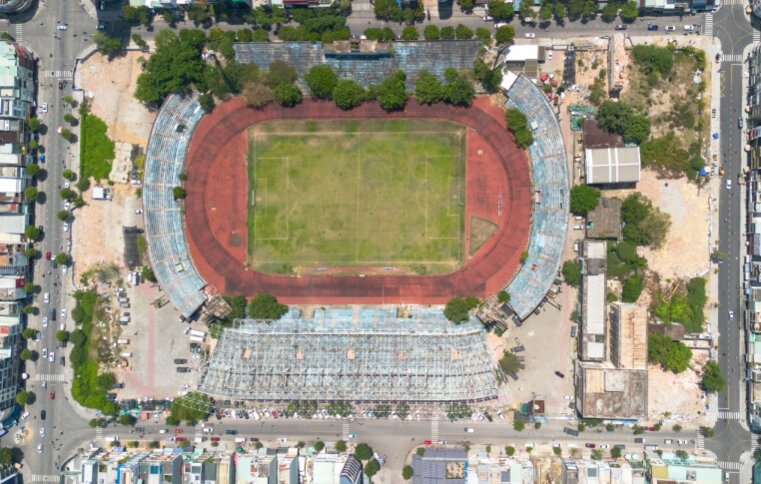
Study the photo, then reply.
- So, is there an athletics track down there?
Yes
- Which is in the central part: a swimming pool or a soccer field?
soccer field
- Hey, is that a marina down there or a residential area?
residential area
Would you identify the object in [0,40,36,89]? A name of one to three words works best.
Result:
house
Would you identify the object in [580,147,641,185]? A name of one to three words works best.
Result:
building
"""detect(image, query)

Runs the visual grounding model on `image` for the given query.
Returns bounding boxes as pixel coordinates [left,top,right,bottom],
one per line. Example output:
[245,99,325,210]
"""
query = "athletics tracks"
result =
[185,95,530,304]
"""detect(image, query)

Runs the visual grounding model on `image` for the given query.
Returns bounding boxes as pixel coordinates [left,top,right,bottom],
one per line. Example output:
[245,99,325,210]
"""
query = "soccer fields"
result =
[248,119,467,275]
